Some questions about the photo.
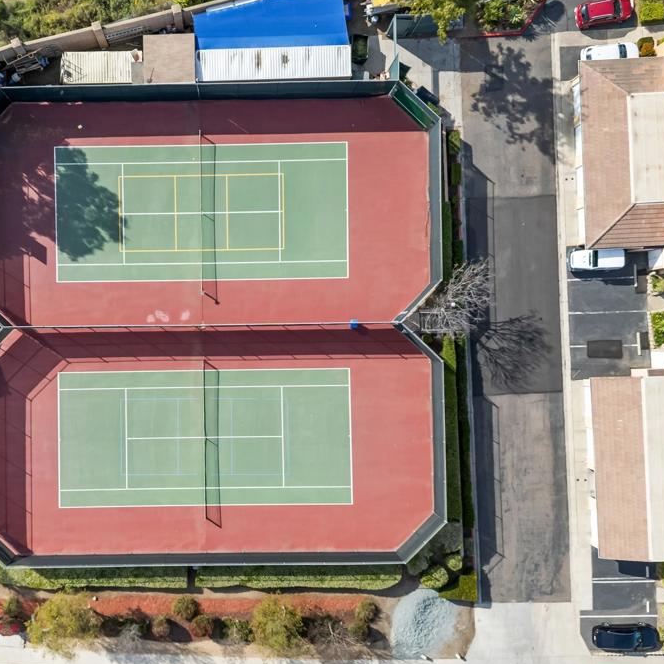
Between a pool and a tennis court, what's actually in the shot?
tennis court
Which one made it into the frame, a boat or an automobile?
automobile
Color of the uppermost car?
red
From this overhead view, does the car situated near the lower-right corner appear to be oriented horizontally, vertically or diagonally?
horizontally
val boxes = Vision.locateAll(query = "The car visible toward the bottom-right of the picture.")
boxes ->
[592,622,656,655]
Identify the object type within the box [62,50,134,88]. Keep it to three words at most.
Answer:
shed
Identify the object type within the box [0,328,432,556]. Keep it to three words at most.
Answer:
tennis court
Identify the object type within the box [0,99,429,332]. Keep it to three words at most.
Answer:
tennis court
